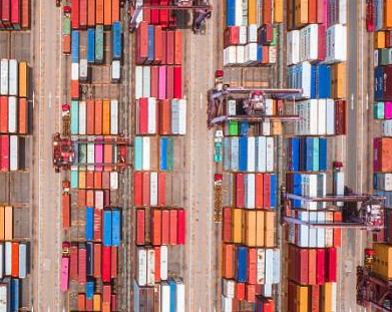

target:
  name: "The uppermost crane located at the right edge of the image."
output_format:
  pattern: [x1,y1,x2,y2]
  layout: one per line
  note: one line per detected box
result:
[287,185,388,226]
